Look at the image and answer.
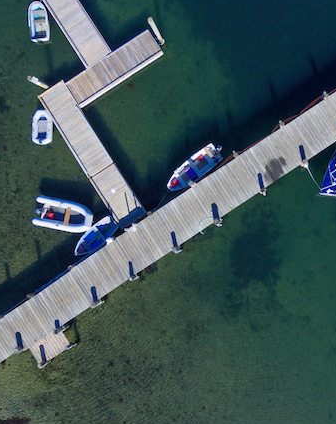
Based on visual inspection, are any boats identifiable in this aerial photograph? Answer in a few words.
Yes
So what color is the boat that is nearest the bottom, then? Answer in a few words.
blue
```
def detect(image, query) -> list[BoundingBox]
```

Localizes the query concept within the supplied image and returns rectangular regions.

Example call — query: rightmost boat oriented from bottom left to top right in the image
[167,143,223,189]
